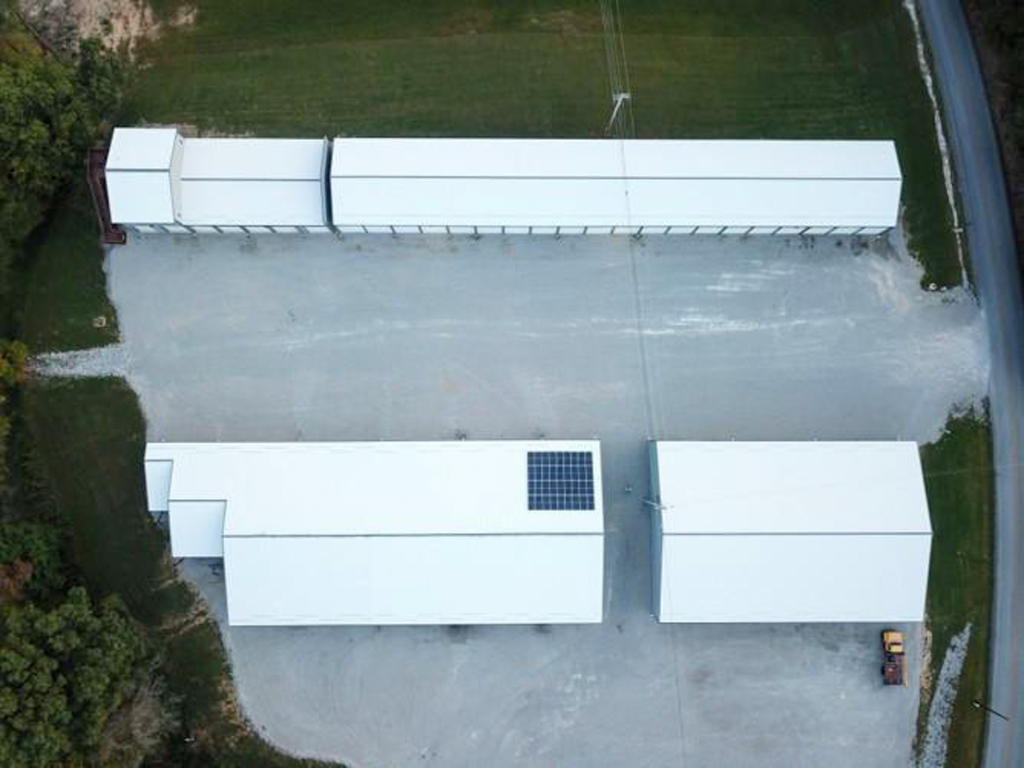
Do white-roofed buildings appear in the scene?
Yes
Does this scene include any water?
No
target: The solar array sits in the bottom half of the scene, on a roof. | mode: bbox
[527,452,594,510]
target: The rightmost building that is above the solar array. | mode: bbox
[330,137,901,238]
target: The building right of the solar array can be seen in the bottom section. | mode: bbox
[650,439,932,623]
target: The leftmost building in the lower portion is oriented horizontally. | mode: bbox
[144,439,604,626]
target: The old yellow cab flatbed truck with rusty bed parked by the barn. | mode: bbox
[883,629,909,689]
